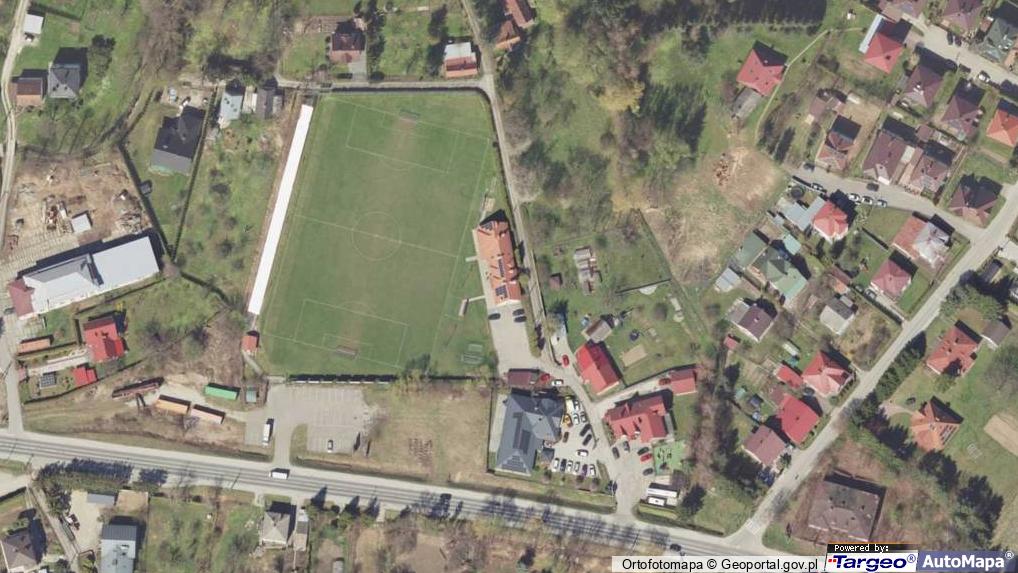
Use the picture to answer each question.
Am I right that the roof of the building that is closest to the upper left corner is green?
No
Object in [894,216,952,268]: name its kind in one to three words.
house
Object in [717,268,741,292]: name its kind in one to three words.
shed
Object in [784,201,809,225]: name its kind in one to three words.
shed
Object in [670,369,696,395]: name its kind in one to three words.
building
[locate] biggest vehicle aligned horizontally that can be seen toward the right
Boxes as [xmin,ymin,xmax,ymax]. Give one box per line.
[646,487,678,500]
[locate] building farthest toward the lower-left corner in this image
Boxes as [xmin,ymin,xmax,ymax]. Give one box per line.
[2,531,40,571]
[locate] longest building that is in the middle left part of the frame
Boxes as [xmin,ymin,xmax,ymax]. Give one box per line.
[8,238,158,317]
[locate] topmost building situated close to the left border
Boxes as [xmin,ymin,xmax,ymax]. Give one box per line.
[24,14,44,35]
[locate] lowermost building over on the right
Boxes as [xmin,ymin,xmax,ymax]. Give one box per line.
[810,478,880,543]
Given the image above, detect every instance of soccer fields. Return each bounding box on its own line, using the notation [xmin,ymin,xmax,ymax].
[257,93,495,383]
